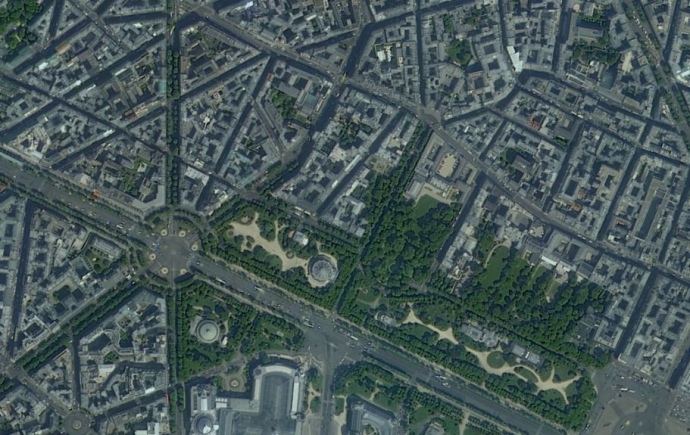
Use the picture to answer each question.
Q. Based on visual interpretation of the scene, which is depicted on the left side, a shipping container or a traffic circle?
traffic circle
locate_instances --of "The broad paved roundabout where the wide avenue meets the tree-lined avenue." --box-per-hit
[139,219,206,286]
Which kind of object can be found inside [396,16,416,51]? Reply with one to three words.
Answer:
building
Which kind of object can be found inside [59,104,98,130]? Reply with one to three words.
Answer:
building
